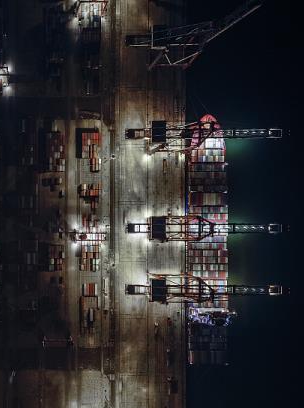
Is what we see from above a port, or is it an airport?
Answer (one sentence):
The area seen from above is a port.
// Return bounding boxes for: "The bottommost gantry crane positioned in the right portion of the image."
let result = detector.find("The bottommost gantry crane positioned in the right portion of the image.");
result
[125,269,289,301]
